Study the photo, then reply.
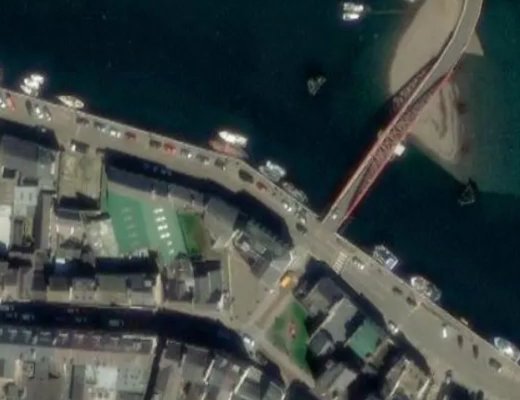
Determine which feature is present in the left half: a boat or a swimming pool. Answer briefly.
boat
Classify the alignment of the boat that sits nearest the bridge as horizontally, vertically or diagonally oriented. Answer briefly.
diagonally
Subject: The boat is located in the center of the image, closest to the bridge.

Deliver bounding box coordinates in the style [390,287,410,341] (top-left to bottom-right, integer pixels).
[279,183,309,207]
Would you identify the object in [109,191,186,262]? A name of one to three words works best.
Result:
sports court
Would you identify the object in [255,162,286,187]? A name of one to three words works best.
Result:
boat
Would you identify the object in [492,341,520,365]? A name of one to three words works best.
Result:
boat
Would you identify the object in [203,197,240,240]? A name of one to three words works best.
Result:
house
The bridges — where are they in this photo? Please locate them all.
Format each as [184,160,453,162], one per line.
[320,0,481,233]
